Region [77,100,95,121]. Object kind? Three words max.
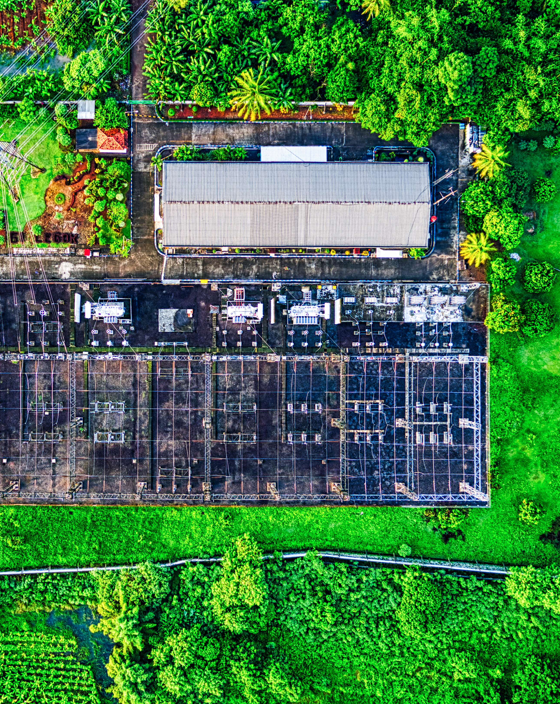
shed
